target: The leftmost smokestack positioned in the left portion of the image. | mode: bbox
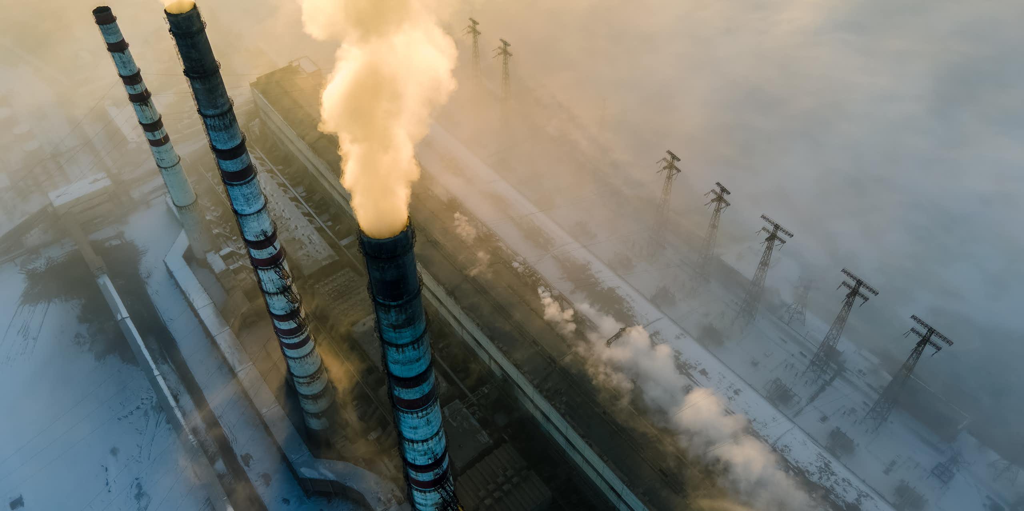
[93,5,217,257]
